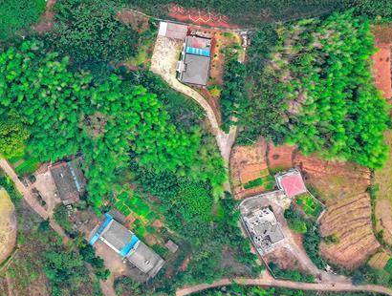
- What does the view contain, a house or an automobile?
house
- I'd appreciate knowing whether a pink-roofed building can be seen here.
Yes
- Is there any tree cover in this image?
Yes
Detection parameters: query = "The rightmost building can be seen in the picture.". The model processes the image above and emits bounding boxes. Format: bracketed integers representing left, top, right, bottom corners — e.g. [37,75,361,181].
[280,173,306,197]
